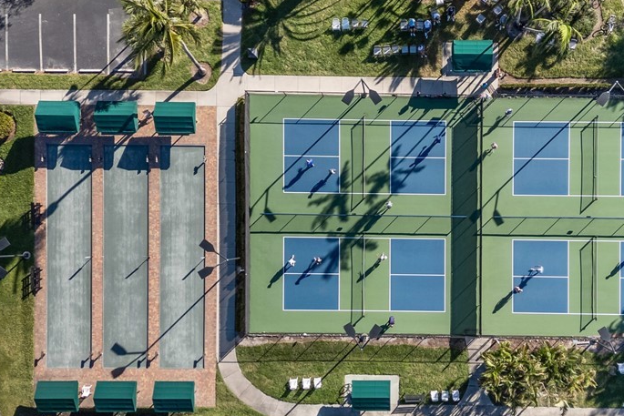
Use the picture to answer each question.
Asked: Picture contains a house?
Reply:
No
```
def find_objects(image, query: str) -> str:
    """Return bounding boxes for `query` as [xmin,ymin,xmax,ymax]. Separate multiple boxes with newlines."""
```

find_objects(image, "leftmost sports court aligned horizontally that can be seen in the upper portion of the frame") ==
[284,118,446,194]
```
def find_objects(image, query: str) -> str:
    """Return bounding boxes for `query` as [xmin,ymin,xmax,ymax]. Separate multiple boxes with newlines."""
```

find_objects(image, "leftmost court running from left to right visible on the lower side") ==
[283,236,445,312]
